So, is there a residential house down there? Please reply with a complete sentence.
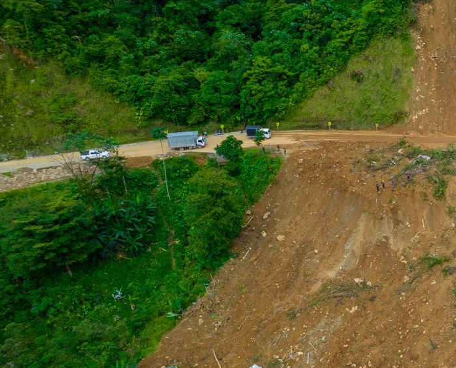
No, the picture doesn't show any residential house.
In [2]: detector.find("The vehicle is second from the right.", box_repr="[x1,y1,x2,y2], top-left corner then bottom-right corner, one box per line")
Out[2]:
[164,132,206,151]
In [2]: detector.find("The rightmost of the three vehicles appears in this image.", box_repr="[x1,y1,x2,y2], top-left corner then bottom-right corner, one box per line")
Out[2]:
[242,125,272,140]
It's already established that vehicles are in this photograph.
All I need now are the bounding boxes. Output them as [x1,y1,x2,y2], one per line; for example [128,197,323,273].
[242,125,272,140]
[164,132,206,151]
[78,147,110,160]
